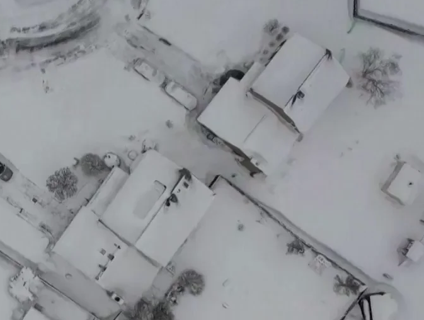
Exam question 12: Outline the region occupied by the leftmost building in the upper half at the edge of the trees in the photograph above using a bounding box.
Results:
[195,33,351,176]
